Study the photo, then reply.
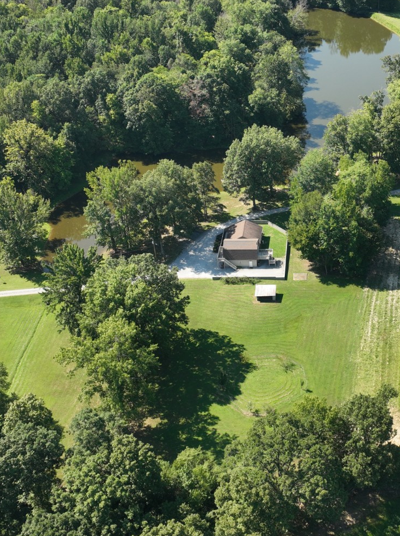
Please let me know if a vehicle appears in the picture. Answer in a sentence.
No, there is no vehicle in the image.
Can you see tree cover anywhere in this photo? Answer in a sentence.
Yes, tree cover shows up in the scene.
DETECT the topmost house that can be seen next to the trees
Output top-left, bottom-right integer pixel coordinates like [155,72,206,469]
[216,220,276,270]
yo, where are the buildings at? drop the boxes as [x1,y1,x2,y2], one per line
[216,220,276,270]
[255,285,276,301]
